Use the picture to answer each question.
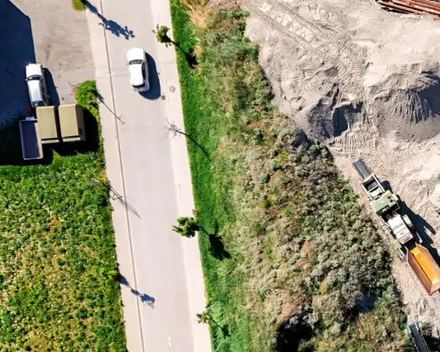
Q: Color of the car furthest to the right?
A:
white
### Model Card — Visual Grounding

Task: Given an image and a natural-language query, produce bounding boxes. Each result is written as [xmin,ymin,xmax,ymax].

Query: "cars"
[122,45,151,91]
[21,61,49,108]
